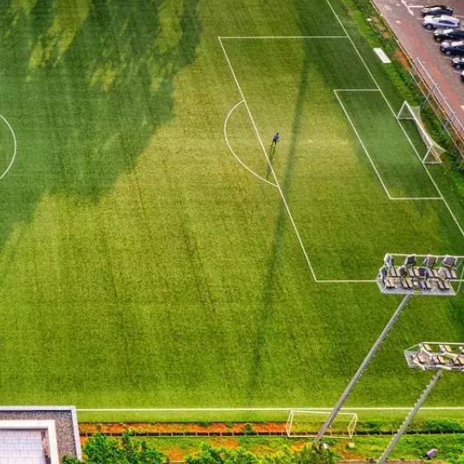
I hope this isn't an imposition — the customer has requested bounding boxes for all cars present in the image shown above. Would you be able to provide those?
[420,1,460,16]
[439,40,464,56]
[423,14,464,28]
[435,26,464,42]
[449,55,464,72]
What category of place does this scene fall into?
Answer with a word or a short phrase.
sports ground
